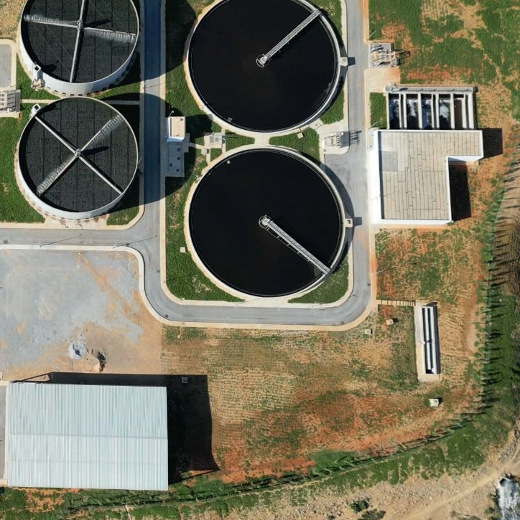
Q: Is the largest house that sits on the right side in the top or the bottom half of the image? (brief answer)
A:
top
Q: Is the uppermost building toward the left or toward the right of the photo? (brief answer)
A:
right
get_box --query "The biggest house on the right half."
[369,130,483,224]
